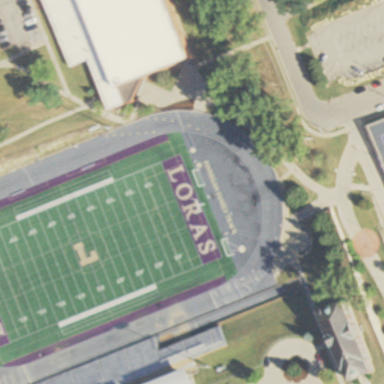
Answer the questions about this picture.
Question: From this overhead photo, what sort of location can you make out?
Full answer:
This looks like a sports ground.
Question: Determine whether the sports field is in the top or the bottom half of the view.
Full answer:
Seen from above, the sports field lies in the bottom half of the view.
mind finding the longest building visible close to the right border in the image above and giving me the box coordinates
[318,302,372,382]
